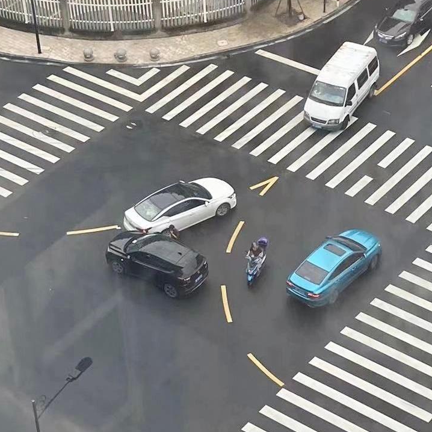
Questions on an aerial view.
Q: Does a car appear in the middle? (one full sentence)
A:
Yes, looking in the middle, one can make out a car.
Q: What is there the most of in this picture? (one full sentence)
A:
The scene is dominated by paved ground.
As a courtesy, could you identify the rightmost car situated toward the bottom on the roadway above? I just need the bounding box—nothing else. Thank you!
[282,230,385,311]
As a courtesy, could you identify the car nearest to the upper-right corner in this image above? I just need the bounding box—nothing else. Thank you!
[374,0,432,44]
